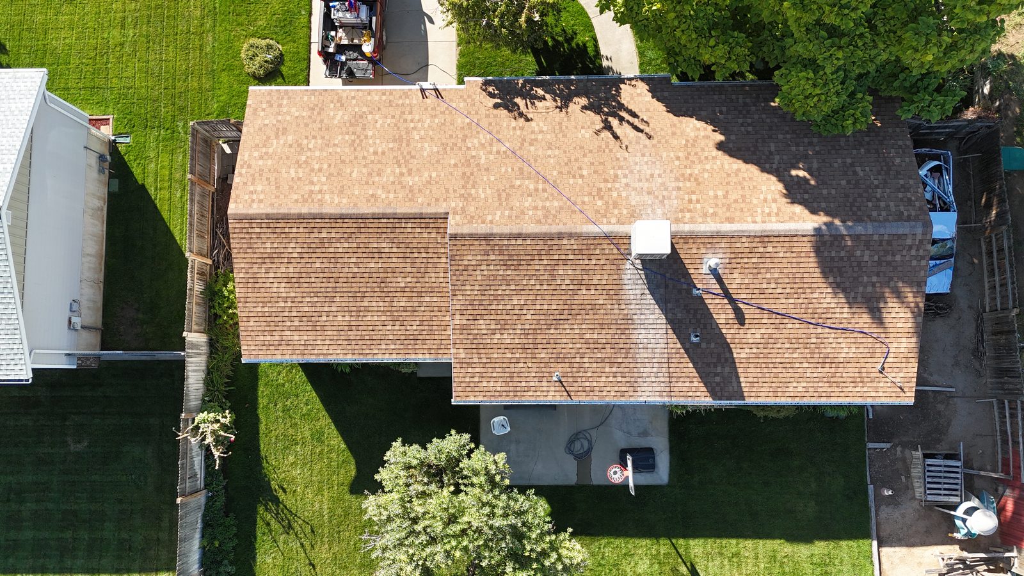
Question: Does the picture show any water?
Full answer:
No, water can't be seen anywhere here.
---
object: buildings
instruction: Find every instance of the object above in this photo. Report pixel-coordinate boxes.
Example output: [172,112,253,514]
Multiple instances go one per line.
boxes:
[0,65,118,387]
[228,71,932,409]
